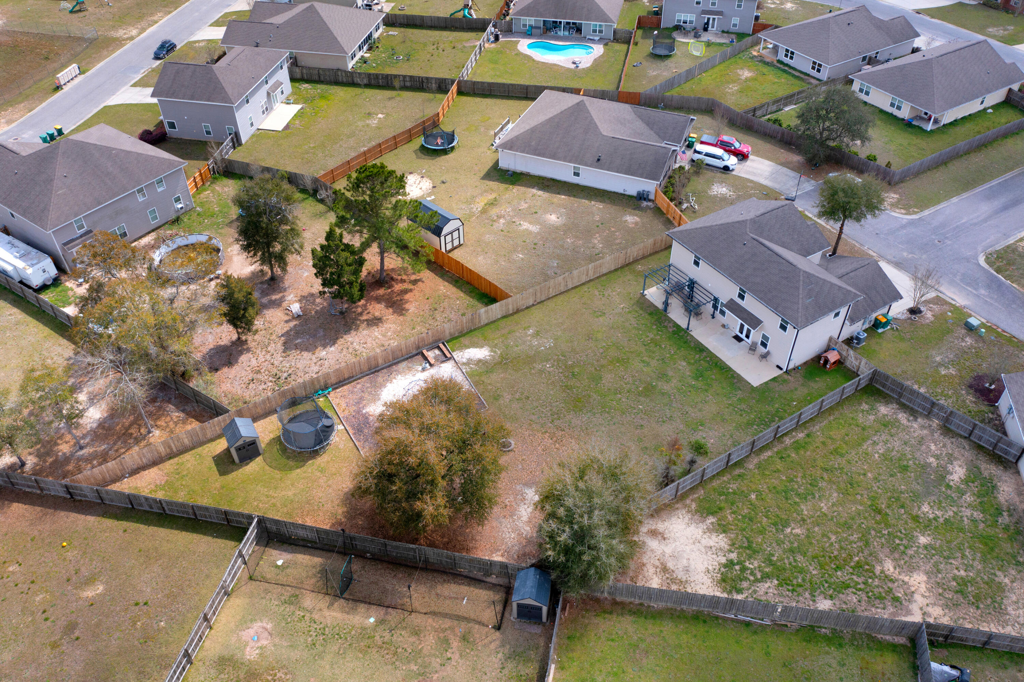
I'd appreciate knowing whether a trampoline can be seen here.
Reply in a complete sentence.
Yes, a trampoline can be made out from above.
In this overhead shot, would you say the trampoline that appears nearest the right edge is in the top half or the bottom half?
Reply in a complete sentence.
The trampoline that appears nearest the right edge is in the top half of the image.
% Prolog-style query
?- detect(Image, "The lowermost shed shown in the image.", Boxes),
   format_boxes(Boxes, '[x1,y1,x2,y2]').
[511,569,552,624]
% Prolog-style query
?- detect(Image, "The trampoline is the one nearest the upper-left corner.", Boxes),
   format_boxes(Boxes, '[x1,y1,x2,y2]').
[424,120,456,154]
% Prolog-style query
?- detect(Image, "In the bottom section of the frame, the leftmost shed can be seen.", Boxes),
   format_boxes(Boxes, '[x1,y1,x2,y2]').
[222,417,265,465]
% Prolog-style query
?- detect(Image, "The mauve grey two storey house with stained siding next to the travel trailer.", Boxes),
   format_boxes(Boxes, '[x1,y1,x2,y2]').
[0,122,196,271]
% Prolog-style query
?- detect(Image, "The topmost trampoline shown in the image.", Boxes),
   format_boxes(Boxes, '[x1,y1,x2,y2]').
[649,33,677,60]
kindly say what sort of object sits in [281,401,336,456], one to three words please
trampoline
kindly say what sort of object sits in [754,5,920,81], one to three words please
house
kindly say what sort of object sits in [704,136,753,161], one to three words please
vehicle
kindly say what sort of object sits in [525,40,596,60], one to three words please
swimming pool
